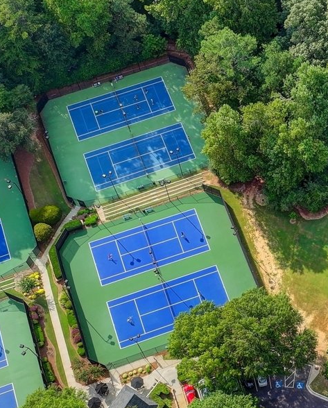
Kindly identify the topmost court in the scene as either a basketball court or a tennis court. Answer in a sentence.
It turns out the topmost court is a tennis court.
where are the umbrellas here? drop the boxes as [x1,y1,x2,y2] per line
[88,397,102,408]
[129,375,144,391]
[94,383,109,397]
